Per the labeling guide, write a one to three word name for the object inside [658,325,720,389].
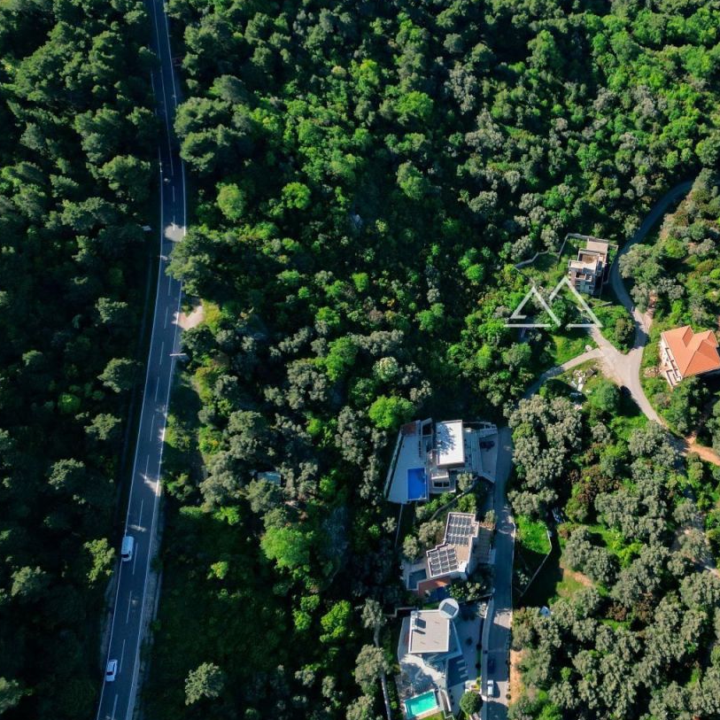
house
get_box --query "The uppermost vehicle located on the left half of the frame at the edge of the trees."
[121,536,136,560]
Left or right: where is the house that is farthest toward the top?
right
